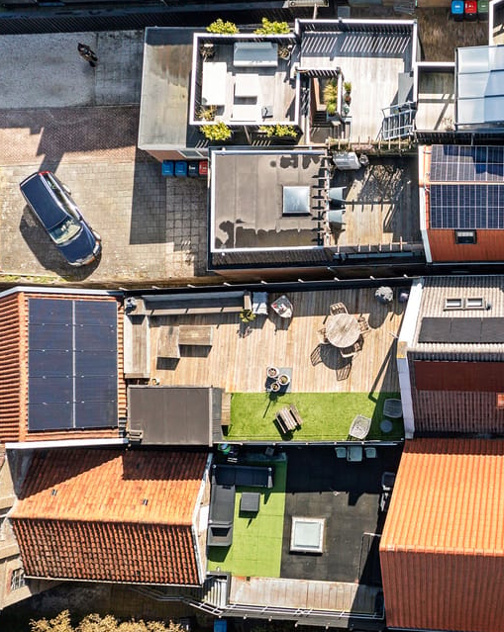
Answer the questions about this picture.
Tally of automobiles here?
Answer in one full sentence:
Only 1 automobile is visible.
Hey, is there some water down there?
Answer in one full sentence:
No, there's no water in this view.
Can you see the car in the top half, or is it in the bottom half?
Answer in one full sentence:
You can find the car in the top half.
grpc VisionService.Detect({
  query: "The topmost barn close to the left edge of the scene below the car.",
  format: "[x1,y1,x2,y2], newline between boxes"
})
[0,282,128,442]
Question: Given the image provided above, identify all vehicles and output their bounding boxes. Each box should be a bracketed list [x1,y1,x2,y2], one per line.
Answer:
[20,166,100,262]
